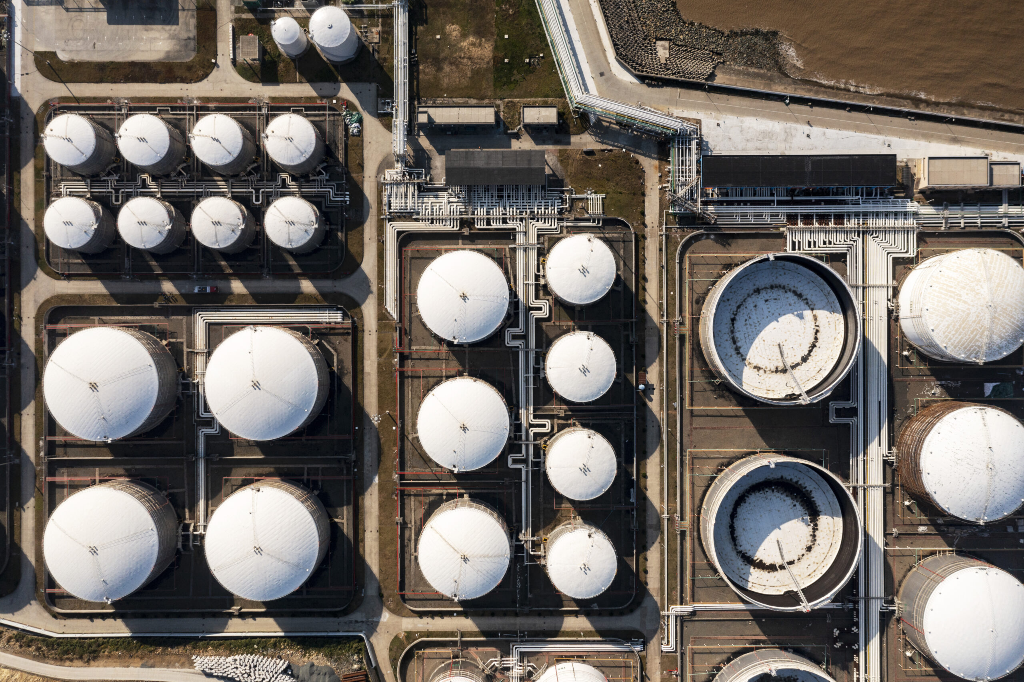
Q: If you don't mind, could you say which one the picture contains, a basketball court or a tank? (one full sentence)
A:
This aerial view contains a tank.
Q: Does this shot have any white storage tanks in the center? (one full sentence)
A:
Yes, I can see a white storage tank in the center.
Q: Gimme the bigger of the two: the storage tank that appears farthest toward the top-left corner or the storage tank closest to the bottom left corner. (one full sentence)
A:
The storage tank closest to the bottom left corner covers a greater area than the storage tank that appears farthest toward the top-left corner.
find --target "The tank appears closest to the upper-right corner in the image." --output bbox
[897,246,1024,366]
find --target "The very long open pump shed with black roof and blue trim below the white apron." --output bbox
[699,154,896,192]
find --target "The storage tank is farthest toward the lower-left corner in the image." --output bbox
[42,479,179,605]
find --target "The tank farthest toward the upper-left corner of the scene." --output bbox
[39,112,117,175]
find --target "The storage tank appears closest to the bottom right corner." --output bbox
[898,552,1024,682]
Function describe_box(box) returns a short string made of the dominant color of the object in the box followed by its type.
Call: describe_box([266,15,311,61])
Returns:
white storage tank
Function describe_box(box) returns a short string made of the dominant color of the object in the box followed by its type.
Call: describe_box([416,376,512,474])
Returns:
white storage tank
